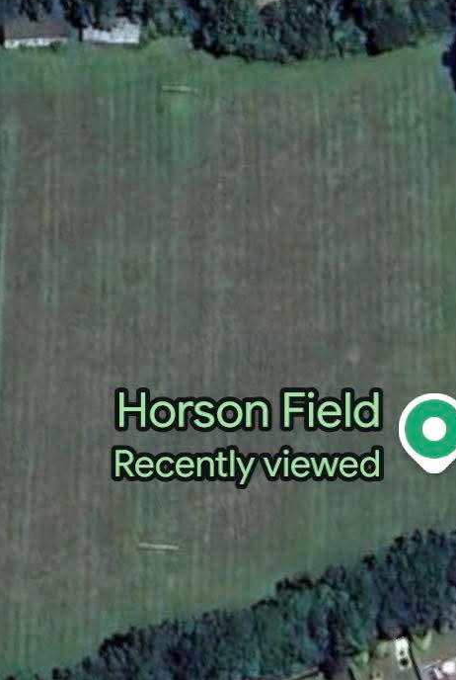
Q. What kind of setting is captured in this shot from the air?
sports ground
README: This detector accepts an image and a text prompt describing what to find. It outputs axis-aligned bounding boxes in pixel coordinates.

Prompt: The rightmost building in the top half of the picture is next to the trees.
[82,19,139,45]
